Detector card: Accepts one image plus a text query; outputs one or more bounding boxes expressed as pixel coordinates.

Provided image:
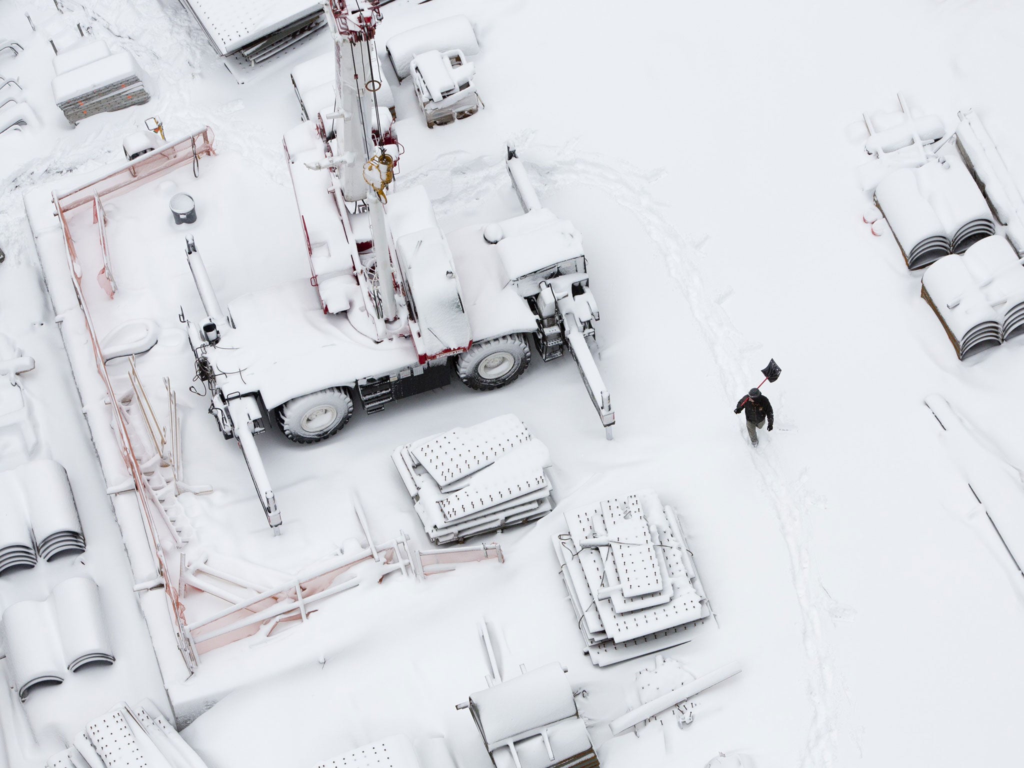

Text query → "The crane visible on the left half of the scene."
[179,0,617,546]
